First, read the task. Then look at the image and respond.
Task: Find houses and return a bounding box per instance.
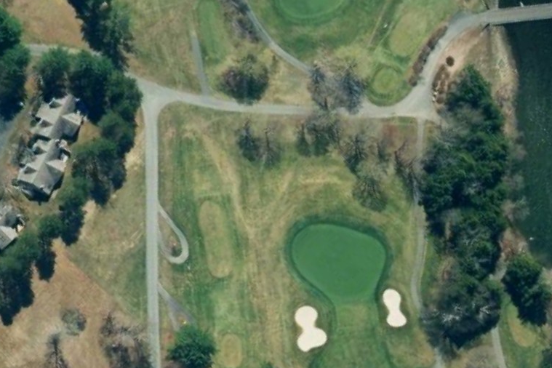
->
[32,86,83,142]
[19,134,67,189]
[0,207,18,246]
